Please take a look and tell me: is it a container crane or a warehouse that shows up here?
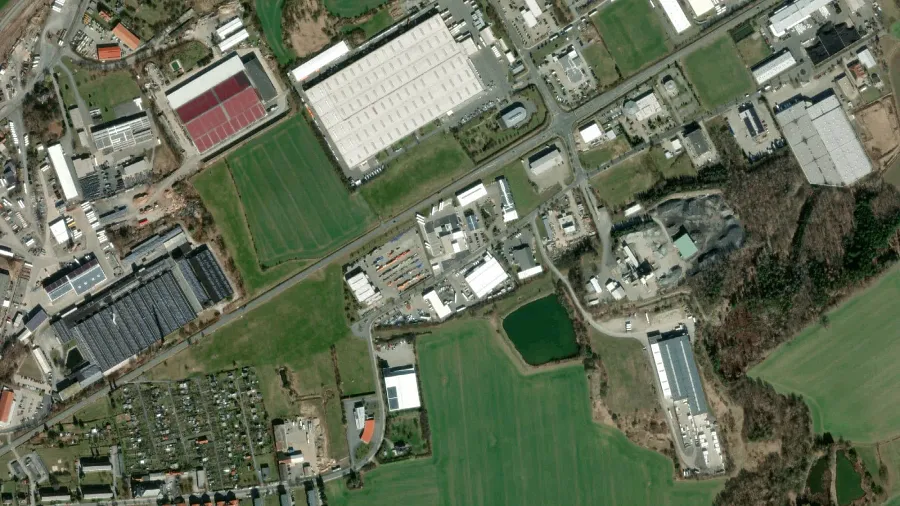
warehouse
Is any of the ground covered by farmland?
Yes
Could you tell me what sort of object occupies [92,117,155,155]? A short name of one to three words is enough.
building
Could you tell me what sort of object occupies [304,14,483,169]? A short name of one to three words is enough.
warehouse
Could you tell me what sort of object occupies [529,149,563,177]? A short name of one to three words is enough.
building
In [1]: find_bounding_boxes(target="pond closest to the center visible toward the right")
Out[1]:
[504,294,578,365]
